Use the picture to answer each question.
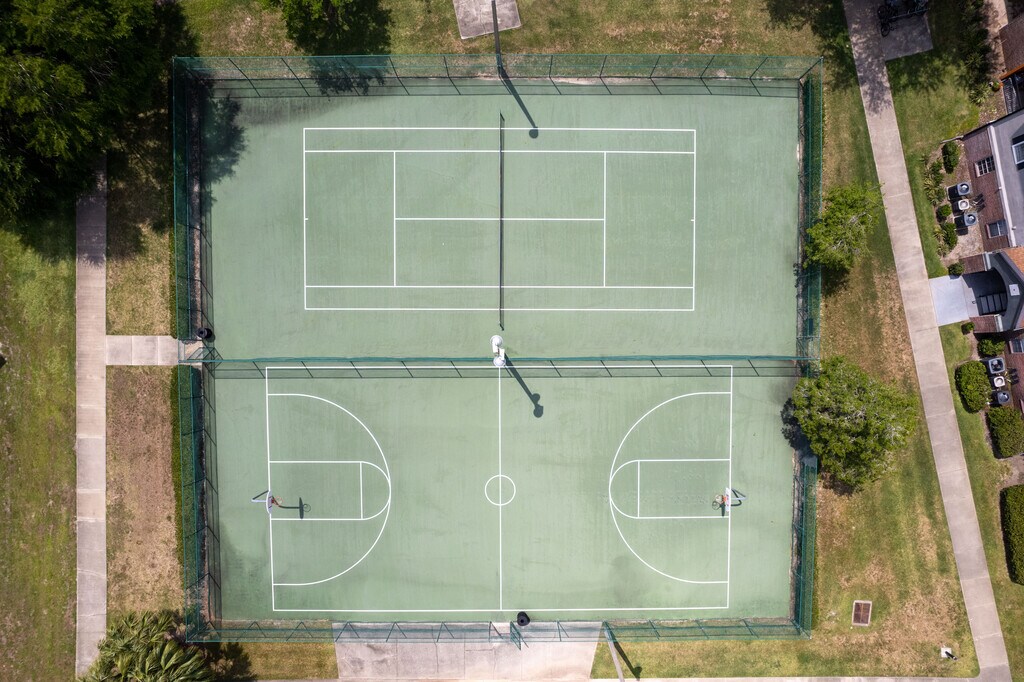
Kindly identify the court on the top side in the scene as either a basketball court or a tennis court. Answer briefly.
tennis court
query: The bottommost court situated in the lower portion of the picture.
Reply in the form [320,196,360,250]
[203,360,797,621]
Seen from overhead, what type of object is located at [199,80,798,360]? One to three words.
tennis court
